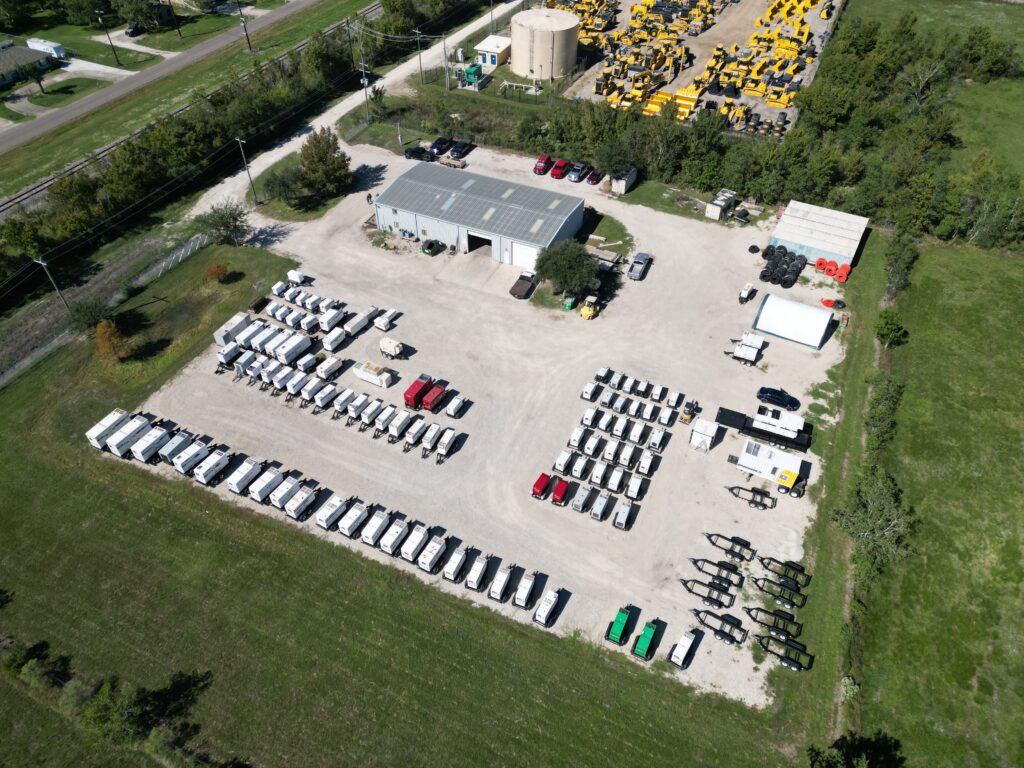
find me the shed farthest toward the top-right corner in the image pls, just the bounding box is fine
[770,199,869,264]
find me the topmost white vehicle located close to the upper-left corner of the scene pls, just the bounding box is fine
[28,38,70,60]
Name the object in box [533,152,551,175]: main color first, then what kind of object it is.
red car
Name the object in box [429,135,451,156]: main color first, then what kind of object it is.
black car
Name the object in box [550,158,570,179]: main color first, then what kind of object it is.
red vehicle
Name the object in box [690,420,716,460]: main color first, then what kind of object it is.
white trailer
